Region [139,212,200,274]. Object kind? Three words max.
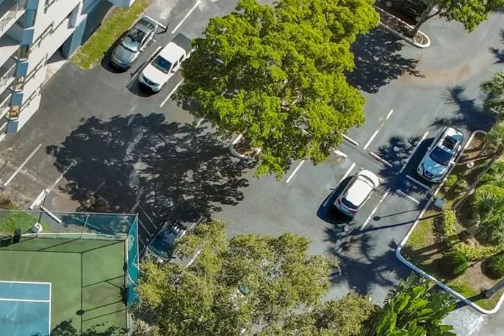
car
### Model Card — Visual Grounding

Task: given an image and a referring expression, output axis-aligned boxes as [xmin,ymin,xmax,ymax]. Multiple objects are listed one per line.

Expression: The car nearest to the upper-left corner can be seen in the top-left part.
[110,18,160,70]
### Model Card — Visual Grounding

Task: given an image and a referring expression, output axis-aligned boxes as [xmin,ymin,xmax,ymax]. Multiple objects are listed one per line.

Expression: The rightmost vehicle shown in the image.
[411,128,466,186]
